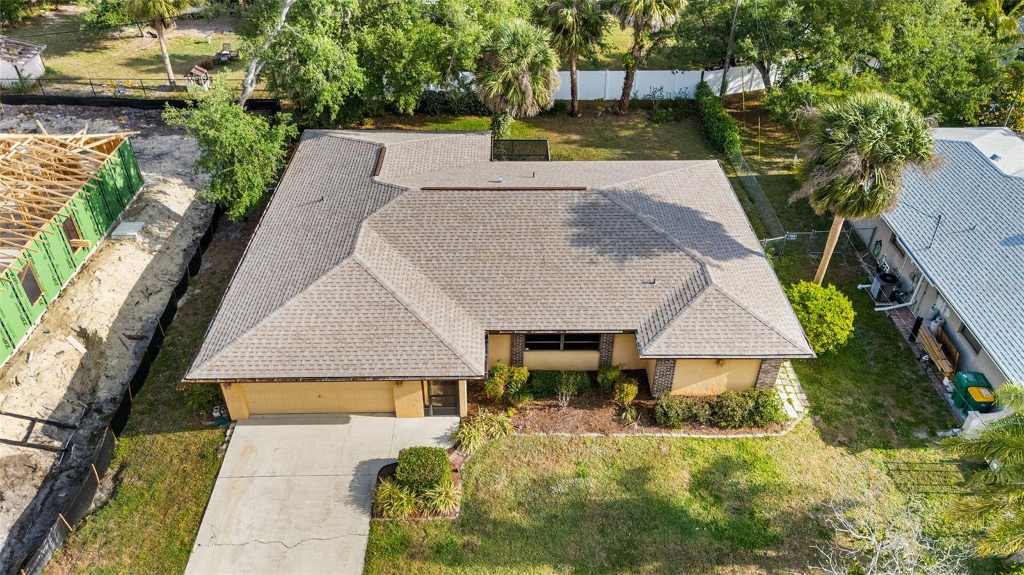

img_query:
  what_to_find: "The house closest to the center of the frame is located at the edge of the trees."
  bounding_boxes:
[182,125,817,419]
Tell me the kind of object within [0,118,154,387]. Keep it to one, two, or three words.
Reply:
house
